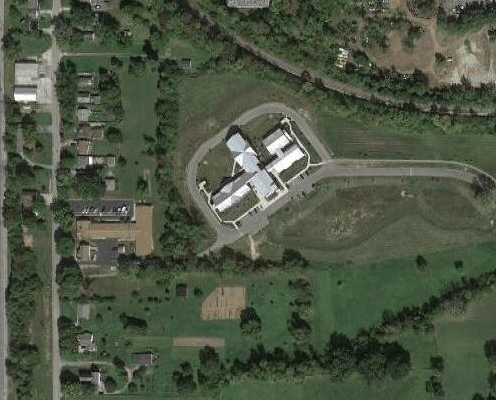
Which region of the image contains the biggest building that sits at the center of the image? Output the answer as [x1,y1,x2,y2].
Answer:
[213,129,305,213]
